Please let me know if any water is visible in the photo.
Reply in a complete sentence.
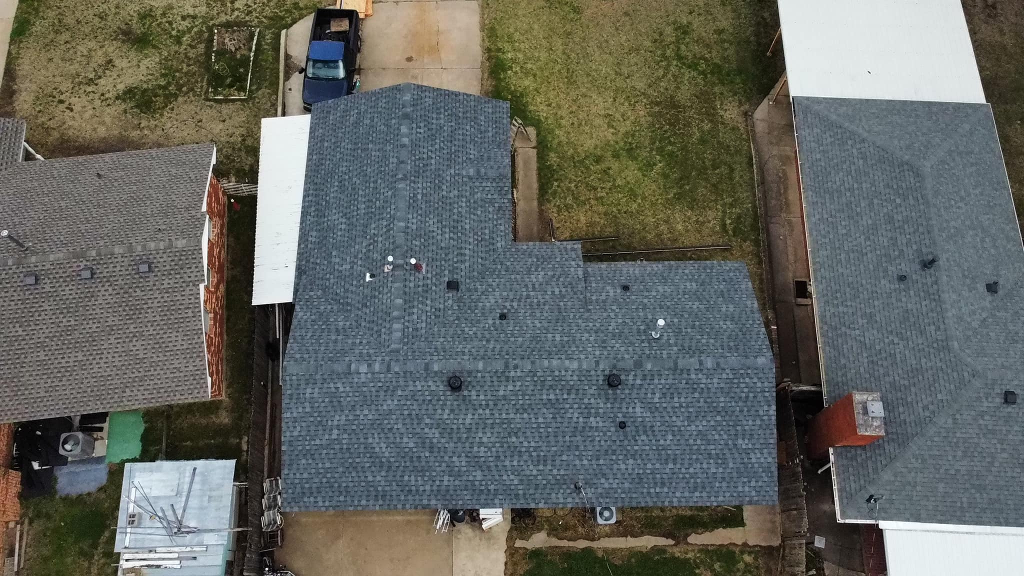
No, the scene doesn't show any water.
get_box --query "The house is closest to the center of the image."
[280,83,779,512]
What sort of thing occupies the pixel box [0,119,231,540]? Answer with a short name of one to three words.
house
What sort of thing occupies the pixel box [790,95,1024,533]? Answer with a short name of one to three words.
house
